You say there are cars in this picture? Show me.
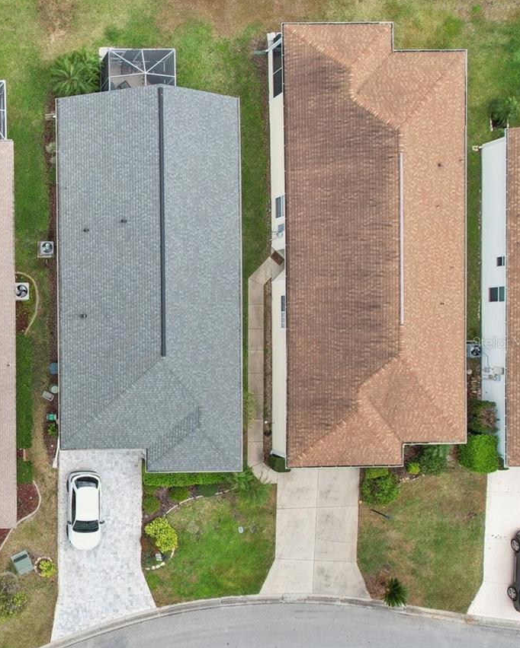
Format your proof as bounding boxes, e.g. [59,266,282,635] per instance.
[507,530,520,615]
[65,474,105,552]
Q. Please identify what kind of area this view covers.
residential area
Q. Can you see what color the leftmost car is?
white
